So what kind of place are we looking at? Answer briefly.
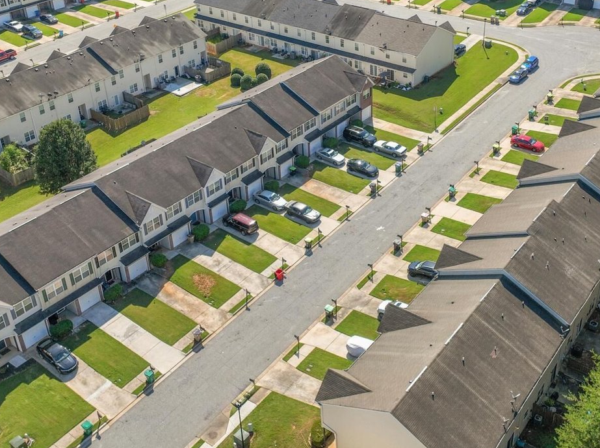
residential area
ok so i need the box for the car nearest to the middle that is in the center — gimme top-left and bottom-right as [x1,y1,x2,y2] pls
[283,200,324,225]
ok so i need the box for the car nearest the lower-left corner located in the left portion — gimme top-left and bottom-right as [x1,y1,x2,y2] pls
[31,337,78,374]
